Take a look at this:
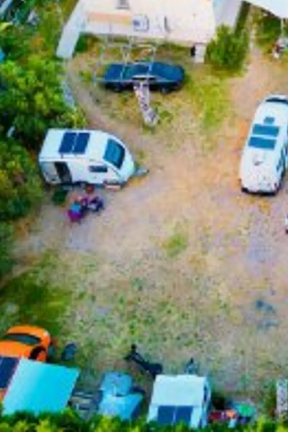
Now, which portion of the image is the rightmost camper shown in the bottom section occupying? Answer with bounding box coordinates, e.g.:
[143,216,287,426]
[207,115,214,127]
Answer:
[150,371,219,432]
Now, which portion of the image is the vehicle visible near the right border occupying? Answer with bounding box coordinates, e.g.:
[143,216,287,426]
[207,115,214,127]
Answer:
[242,97,288,191]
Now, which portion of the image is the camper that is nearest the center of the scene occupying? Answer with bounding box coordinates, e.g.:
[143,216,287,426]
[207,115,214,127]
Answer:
[40,129,154,184]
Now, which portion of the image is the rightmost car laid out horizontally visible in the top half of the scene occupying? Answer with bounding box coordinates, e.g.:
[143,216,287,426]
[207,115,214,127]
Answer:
[101,62,187,98]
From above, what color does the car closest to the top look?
blue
